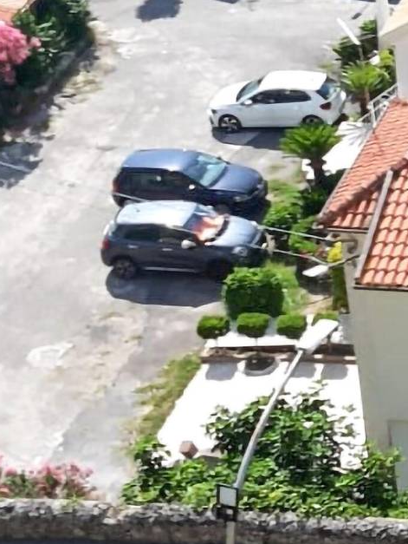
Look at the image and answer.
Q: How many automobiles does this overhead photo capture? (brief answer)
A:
3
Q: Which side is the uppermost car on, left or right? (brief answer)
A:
right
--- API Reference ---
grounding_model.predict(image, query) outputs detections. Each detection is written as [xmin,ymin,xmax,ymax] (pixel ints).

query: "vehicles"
[205,65,343,134]
[121,141,276,213]
[96,195,267,279]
